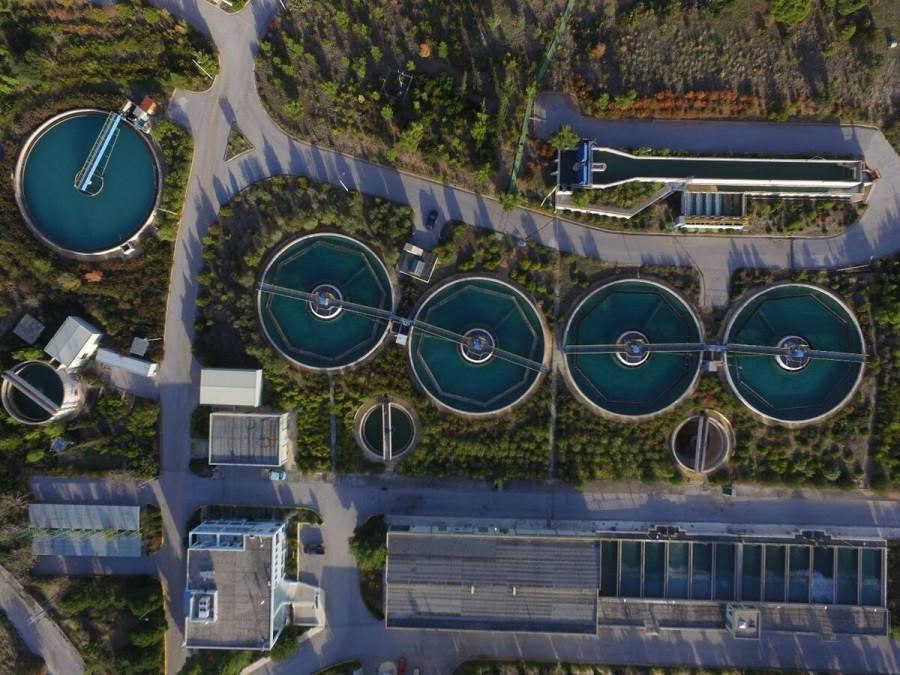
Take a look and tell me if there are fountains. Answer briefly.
No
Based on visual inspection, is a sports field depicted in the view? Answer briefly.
No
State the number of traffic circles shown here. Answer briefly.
0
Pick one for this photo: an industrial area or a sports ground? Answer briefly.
industrial area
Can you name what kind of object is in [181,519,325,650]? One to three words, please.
building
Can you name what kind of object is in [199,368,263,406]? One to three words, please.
shed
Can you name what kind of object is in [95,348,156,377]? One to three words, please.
shed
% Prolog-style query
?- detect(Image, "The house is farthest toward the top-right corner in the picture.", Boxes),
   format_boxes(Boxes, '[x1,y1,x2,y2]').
[675,193,750,231]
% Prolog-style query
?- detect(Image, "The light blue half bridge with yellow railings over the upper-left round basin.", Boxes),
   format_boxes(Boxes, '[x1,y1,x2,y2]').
[73,108,123,199]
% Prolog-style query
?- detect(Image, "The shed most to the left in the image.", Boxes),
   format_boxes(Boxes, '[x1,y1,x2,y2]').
[11,313,48,345]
